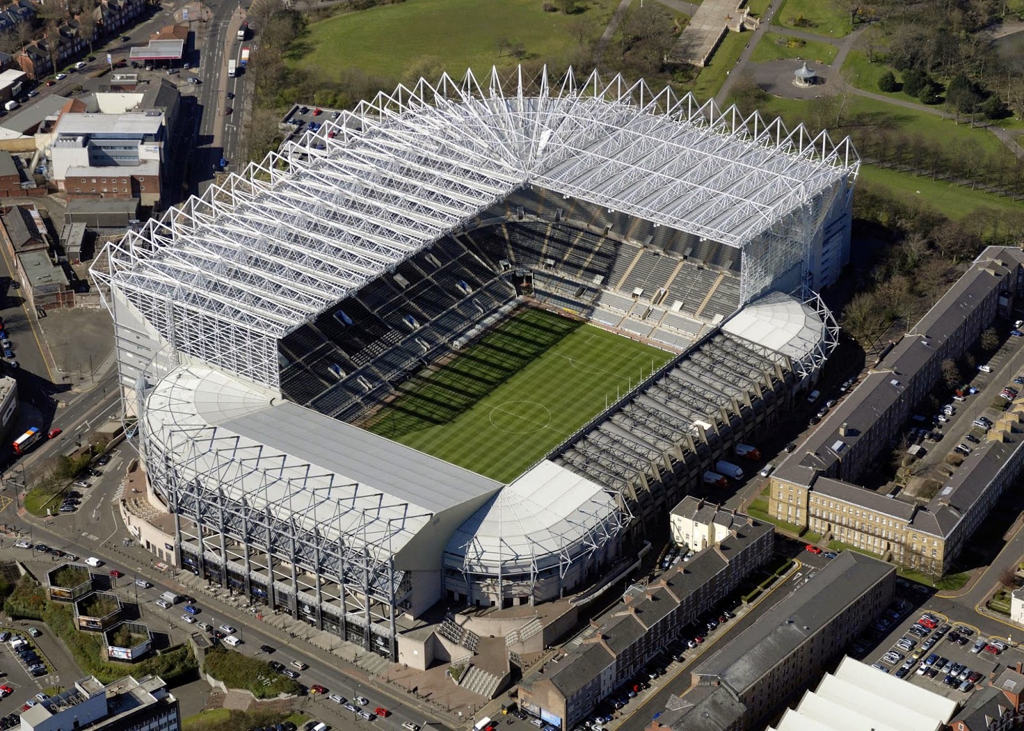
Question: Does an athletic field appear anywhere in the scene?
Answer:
Yes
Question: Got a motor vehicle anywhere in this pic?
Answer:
Yes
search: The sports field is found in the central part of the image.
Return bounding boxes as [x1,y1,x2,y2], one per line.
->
[354,305,680,532]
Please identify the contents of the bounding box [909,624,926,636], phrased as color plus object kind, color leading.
black vehicle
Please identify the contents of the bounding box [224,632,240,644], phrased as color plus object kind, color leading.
white vehicle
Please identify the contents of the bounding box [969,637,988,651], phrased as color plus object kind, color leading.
gray vehicle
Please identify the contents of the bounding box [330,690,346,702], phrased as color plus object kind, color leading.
gray vehicle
